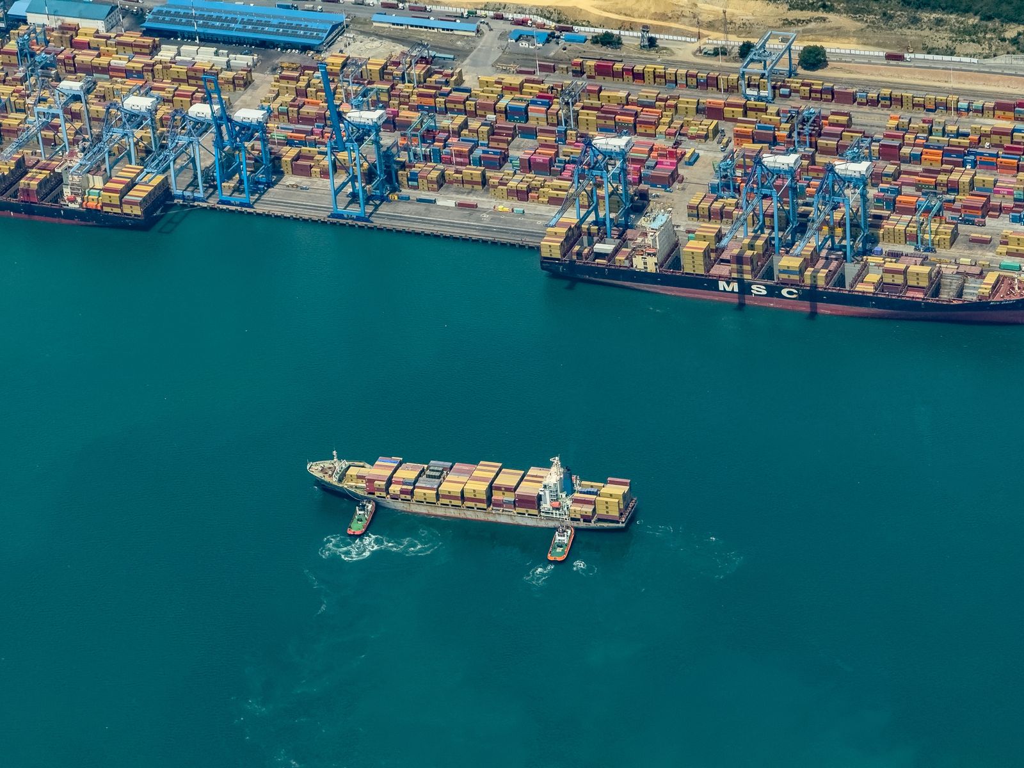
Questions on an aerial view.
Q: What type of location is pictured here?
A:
port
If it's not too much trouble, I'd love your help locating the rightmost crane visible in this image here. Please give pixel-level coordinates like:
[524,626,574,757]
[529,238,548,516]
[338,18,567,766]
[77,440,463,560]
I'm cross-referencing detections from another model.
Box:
[913,193,944,251]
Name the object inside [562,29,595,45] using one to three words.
shed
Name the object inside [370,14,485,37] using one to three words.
shed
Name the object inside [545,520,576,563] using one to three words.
boat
